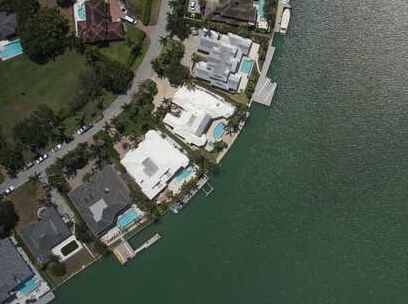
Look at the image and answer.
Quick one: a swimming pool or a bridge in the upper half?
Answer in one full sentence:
The feature located in the upper half is a swimming pool.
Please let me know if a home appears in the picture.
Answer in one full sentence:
Yes, the image includes a home.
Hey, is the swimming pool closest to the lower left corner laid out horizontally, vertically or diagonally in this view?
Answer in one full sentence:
From this overhead view, the swimming pool closest to the lower left corner appears to run diagonally.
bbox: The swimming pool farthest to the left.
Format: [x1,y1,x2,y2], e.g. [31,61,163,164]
[0,39,23,62]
